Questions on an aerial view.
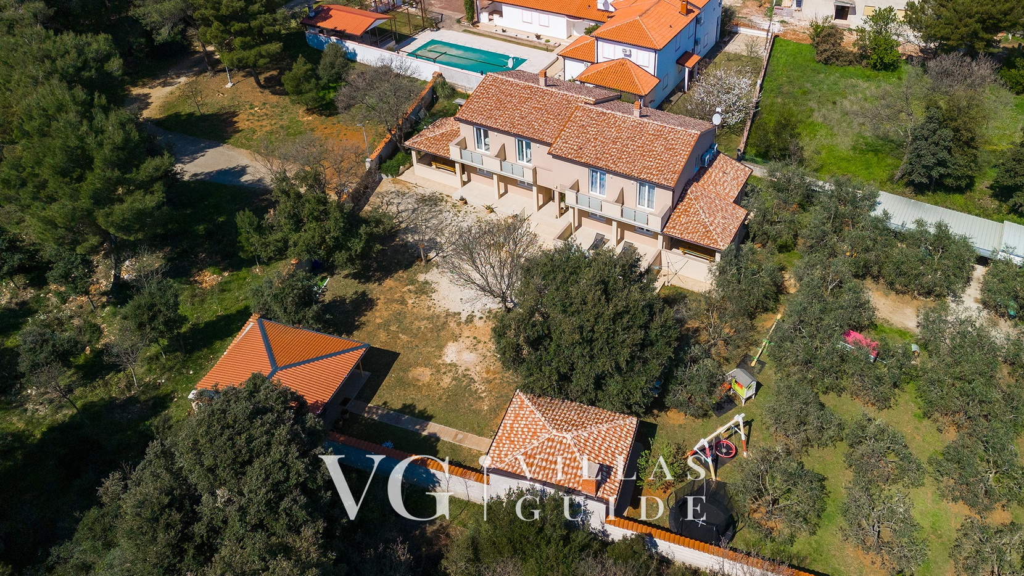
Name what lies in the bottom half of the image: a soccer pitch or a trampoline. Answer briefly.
trampoline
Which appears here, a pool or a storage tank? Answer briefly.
pool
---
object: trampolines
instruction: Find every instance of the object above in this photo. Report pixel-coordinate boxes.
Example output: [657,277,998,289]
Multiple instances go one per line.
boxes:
[669,484,734,546]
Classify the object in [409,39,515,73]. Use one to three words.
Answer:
swimming pool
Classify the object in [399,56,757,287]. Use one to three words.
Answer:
house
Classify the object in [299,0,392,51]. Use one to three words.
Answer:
building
